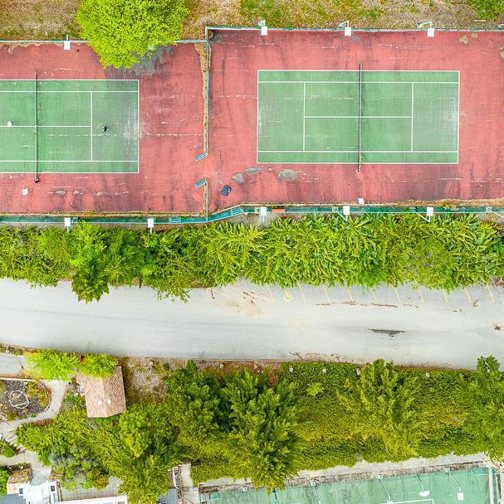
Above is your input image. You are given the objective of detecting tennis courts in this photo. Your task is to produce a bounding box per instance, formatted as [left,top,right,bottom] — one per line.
[205,468,489,504]
[0,37,220,216]
[209,26,504,217]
